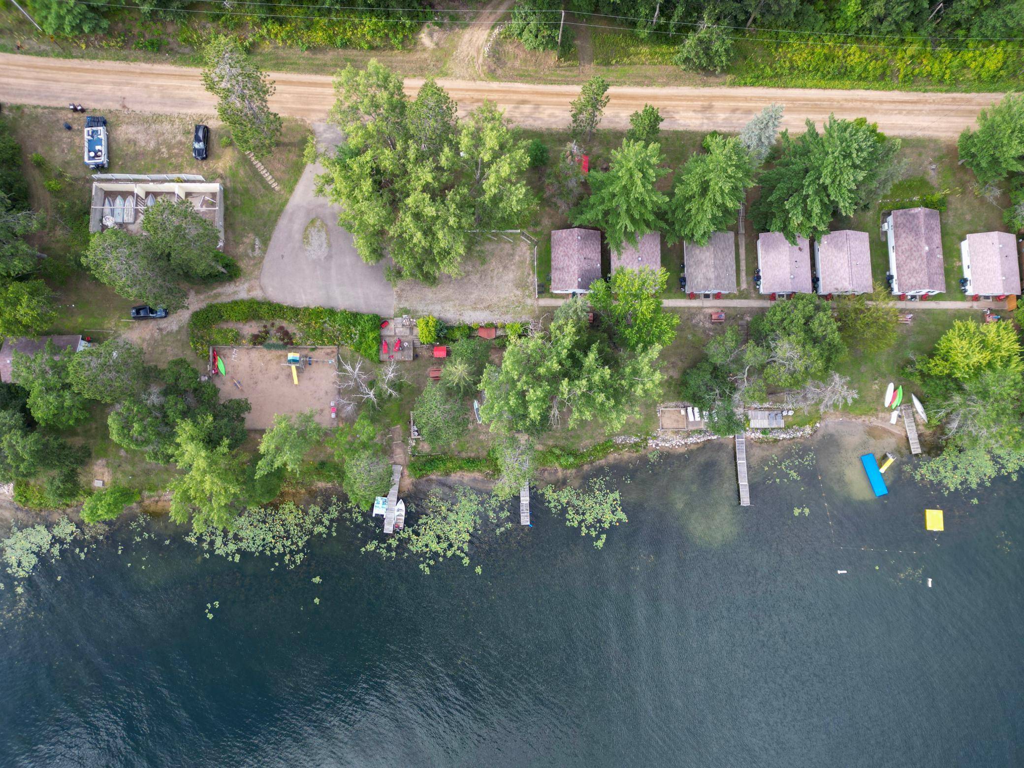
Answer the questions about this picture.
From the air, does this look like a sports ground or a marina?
marina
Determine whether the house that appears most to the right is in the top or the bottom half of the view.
top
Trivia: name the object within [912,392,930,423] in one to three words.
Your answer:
boat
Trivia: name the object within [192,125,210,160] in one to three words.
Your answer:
car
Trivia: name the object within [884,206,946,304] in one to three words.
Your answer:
house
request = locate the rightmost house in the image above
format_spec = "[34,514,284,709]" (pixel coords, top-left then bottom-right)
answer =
[959,230,1021,304]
